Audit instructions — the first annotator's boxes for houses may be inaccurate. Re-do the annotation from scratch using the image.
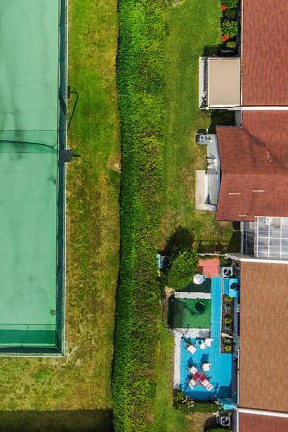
[200,0,288,107]
[232,409,288,432]
[208,111,288,220]
[234,260,288,410]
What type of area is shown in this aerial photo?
residential area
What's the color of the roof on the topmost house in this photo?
red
